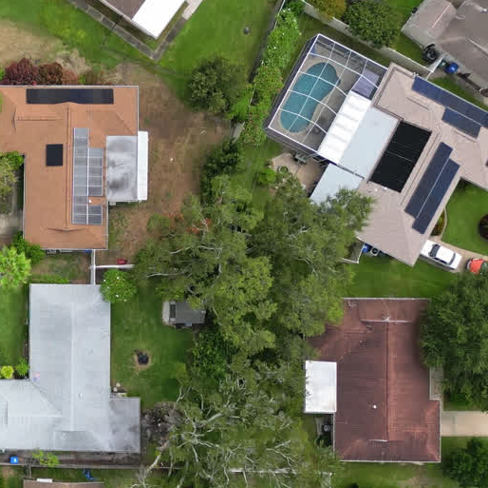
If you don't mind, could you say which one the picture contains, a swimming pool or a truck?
swimming pool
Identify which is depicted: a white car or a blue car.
white car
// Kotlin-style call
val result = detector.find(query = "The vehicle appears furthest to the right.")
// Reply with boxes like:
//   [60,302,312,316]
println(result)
[462,256,488,278]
